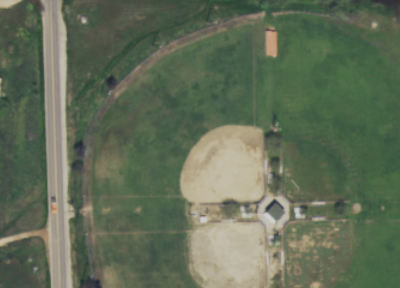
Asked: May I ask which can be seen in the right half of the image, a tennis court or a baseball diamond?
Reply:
baseball diamond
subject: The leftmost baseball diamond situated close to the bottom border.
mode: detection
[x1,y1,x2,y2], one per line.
[95,222,265,288]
